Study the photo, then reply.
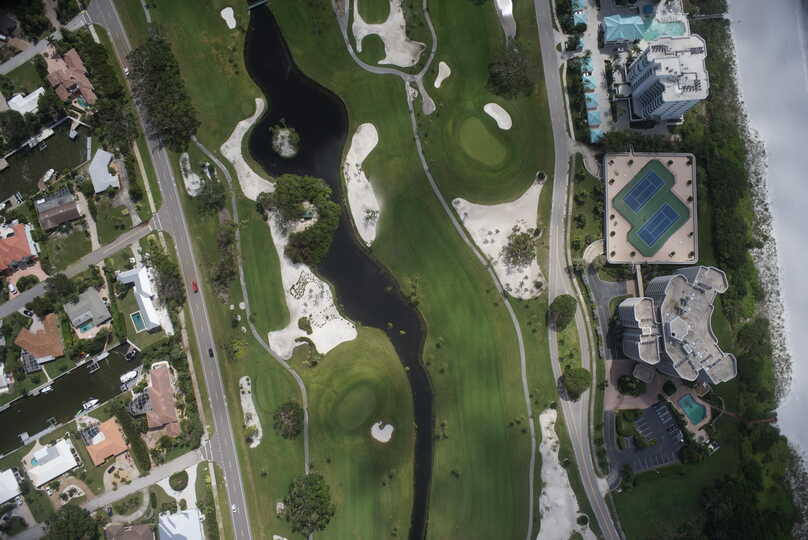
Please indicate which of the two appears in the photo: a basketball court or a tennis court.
tennis court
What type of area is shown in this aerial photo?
golf course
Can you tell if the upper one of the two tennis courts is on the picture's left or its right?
right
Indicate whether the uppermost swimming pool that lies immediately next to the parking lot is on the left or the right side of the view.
right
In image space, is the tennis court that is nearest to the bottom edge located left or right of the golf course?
to its right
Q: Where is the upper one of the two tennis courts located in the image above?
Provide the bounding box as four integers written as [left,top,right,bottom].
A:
[623,170,664,212]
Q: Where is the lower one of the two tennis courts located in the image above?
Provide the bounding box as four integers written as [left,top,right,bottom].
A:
[638,204,678,246]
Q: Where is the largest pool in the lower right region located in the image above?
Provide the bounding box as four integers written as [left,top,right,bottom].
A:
[676,392,709,426]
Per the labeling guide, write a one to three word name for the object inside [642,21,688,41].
swimming pool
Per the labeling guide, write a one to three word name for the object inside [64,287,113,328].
house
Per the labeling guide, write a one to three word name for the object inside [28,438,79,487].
house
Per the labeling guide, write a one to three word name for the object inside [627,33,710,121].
building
